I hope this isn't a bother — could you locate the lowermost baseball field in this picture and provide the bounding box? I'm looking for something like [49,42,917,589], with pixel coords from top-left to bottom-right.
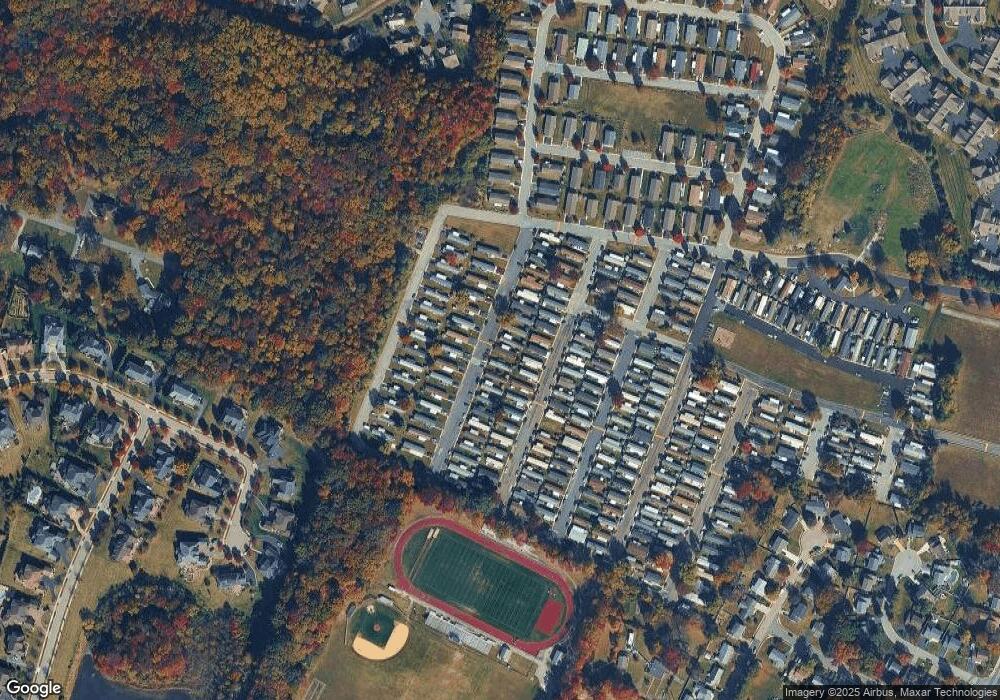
[348,598,410,661]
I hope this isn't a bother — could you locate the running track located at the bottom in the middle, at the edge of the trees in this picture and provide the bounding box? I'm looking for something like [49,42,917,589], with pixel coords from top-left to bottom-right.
[395,516,573,656]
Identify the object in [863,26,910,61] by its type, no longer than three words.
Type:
building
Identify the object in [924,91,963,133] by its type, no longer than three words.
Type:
building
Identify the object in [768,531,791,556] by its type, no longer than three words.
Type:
house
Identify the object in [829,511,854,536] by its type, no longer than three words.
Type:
house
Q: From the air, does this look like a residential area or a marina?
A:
residential area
